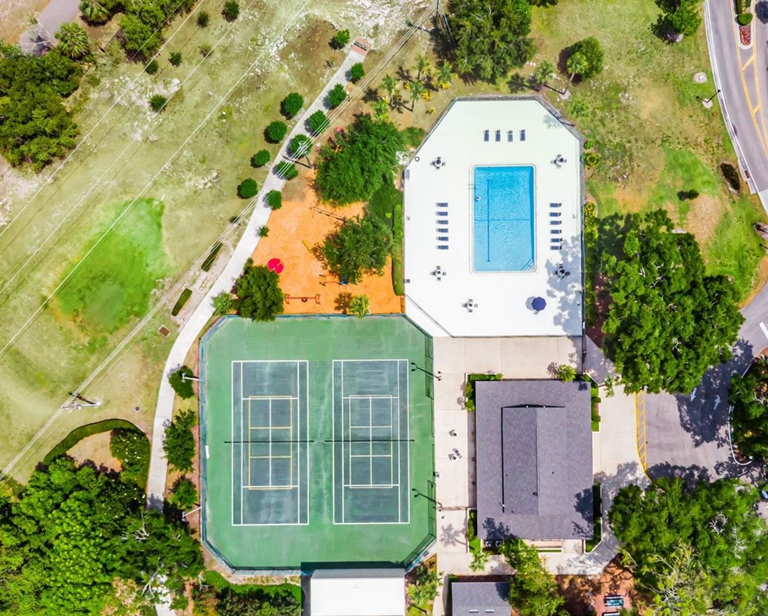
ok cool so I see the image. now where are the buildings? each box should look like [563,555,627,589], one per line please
[475,380,593,541]
[309,566,404,616]
[451,579,511,616]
